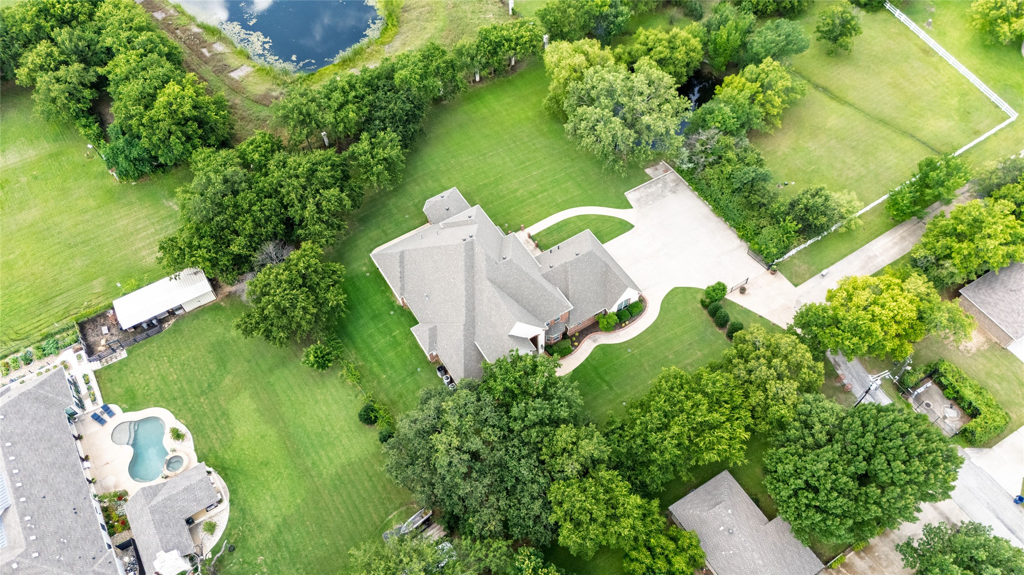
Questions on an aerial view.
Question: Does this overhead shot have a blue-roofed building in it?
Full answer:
No, there isn't any blue-roofed building down there.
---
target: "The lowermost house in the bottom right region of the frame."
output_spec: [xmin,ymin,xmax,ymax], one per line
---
[667,469,827,575]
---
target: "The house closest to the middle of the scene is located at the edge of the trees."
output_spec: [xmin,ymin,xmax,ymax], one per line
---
[369,187,644,403]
